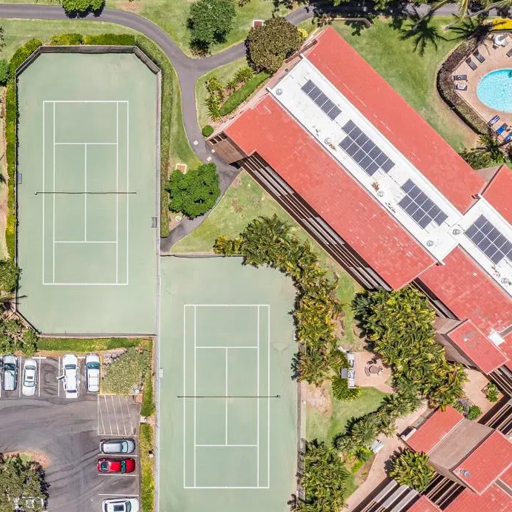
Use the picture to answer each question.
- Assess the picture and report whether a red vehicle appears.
Yes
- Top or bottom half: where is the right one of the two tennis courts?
bottom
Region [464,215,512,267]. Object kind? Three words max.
solar array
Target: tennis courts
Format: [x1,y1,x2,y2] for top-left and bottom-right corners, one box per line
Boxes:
[160,255,297,512]
[18,52,155,335]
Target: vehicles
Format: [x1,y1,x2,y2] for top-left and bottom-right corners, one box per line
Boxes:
[0,354,19,392]
[101,498,138,512]
[83,353,102,393]
[56,354,80,403]
[98,458,133,475]
[99,438,134,455]
[21,358,38,394]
